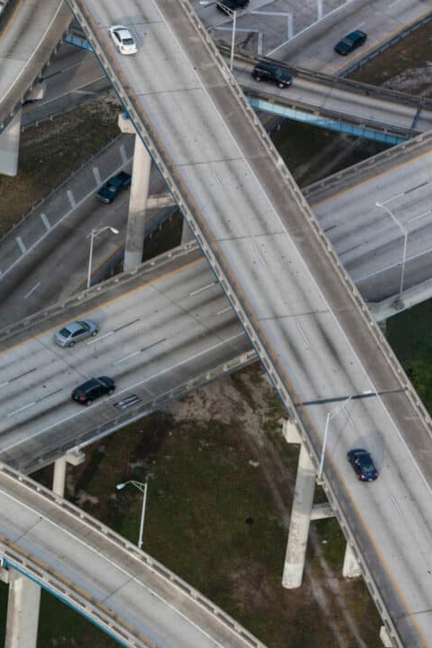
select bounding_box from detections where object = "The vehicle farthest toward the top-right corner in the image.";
[334,31,367,53]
